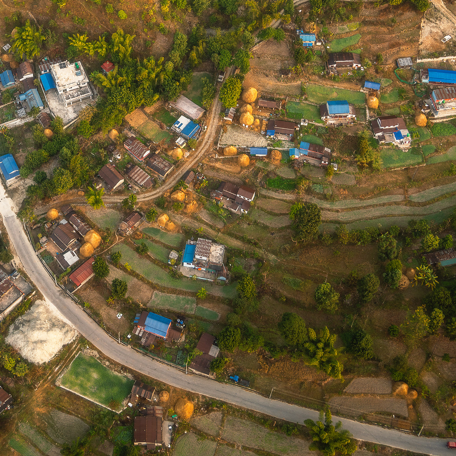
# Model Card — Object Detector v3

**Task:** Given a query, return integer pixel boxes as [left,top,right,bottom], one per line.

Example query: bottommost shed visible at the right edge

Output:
[421,247,456,268]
